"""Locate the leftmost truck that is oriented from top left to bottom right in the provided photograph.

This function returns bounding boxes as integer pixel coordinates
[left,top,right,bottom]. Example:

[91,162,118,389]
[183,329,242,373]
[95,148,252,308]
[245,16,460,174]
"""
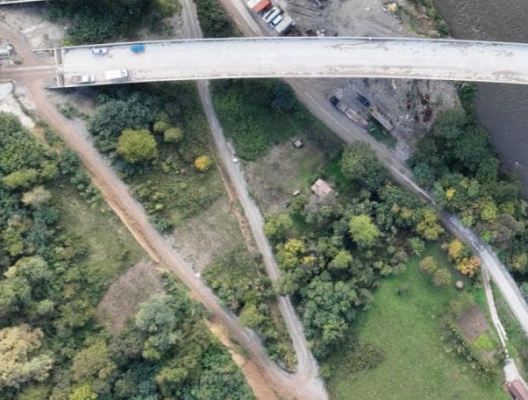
[326,94,370,131]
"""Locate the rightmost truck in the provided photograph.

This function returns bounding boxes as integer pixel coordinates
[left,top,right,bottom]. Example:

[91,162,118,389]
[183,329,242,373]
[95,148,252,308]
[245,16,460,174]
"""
[353,93,394,135]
